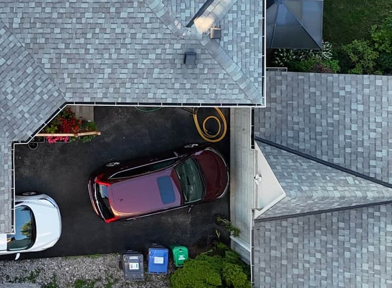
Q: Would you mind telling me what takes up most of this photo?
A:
buildings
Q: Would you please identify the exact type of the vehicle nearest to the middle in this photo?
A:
car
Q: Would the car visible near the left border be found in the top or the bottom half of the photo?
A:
bottom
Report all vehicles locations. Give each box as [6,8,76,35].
[86,147,232,228]
[0,194,62,260]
